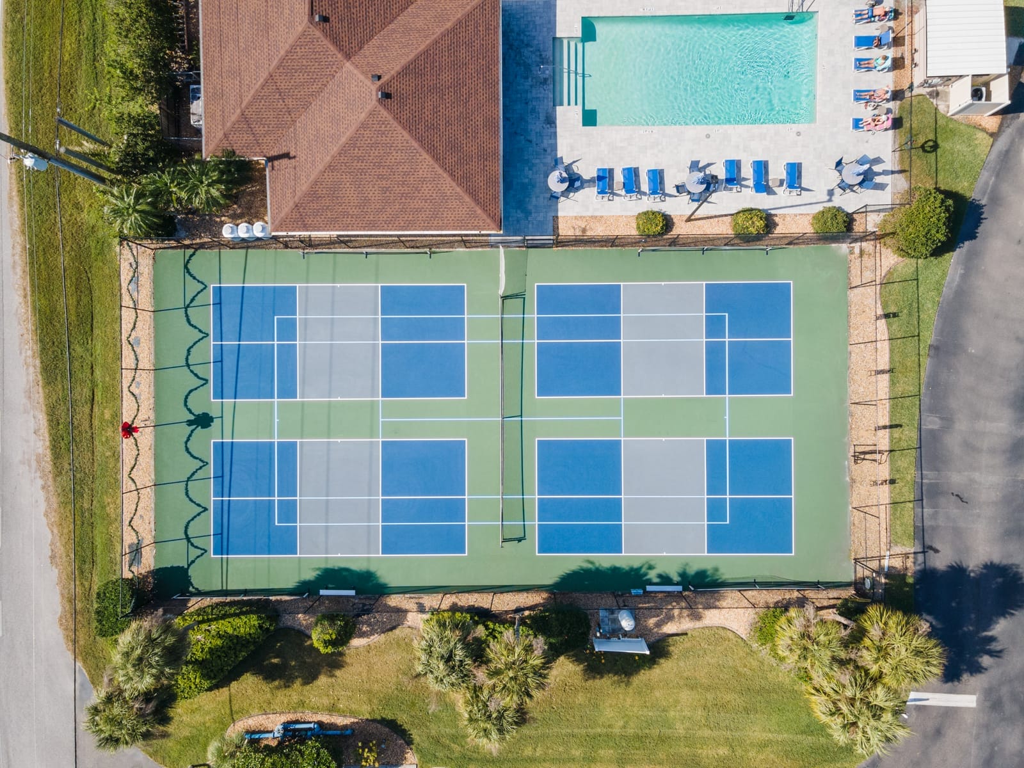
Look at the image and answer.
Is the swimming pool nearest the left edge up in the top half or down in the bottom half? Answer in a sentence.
You can find the swimming pool nearest the left edge in the top half.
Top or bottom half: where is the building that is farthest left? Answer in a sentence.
The top half of the photo is where the building that is farthest left is.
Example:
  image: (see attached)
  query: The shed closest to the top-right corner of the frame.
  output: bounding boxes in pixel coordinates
[914,0,1009,88]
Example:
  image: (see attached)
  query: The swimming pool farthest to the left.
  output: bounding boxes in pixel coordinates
[546,0,819,126]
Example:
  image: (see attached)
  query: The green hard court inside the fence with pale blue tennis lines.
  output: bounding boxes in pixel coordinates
[152,243,855,598]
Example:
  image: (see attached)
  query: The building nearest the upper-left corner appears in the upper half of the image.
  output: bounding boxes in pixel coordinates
[201,0,504,234]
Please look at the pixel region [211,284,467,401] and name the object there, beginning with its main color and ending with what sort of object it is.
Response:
blue sports court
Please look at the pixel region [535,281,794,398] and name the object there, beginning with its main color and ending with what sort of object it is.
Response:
blue sports court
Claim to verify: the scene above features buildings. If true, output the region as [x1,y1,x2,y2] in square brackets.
[201,0,504,234]
[914,0,1009,88]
